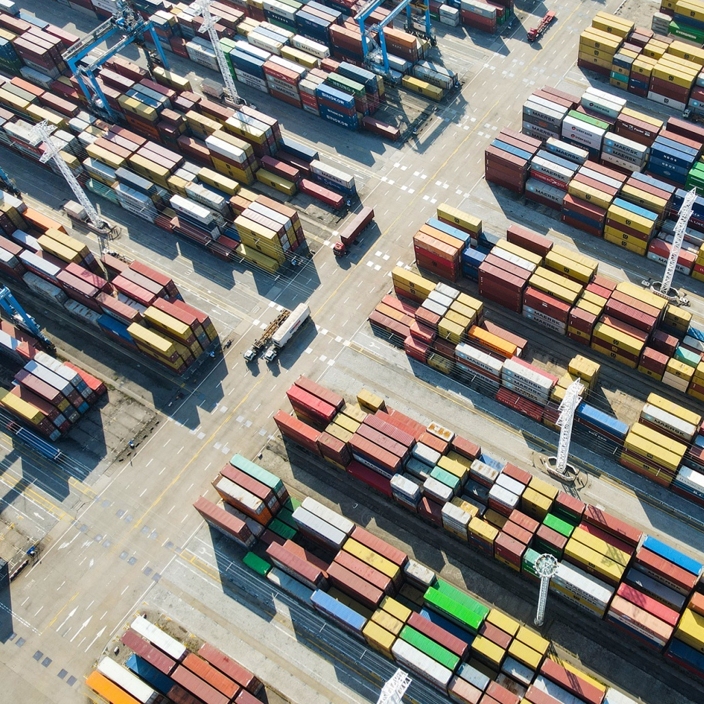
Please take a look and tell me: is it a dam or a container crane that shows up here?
container crane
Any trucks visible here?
Yes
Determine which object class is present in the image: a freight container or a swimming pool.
freight container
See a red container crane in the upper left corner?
No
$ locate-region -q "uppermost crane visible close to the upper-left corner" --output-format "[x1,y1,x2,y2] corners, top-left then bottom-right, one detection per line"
[49,4,170,122]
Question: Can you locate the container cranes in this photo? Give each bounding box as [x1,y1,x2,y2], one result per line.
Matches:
[336,0,433,83]
[49,4,170,122]
[0,161,21,187]
[0,282,56,341]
